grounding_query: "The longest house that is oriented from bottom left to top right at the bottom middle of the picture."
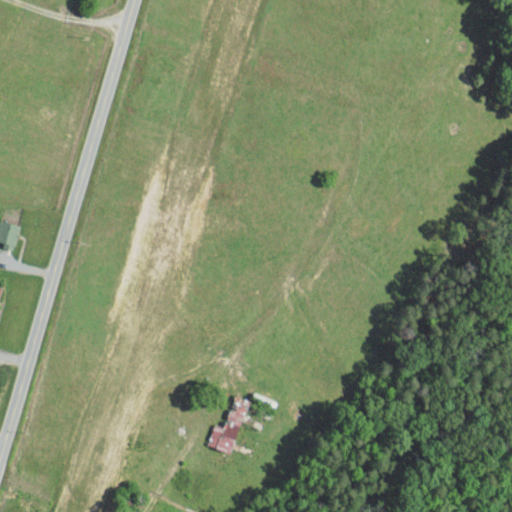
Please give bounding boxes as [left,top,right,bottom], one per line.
[208,398,252,454]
